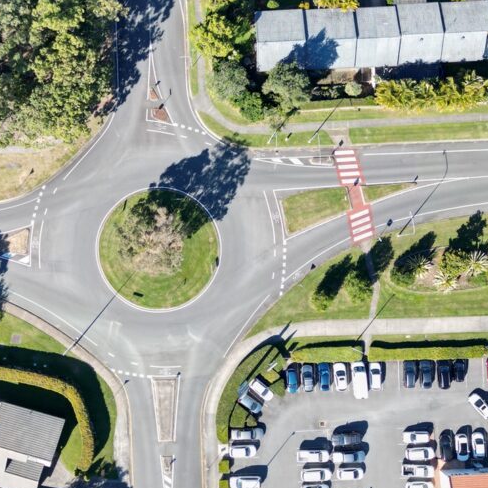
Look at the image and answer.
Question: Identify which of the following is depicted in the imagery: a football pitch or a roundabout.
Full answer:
Visible in the photo is a roundabout.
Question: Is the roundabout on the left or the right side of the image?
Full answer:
The roundabout is on the left side of the image.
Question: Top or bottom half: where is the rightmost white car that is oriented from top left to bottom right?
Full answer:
The bottom half of the photo is where the rightmost white car that is oriented from top left to bottom right is.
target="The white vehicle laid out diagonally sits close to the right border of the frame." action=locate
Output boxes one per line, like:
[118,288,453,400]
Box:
[467,392,488,419]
